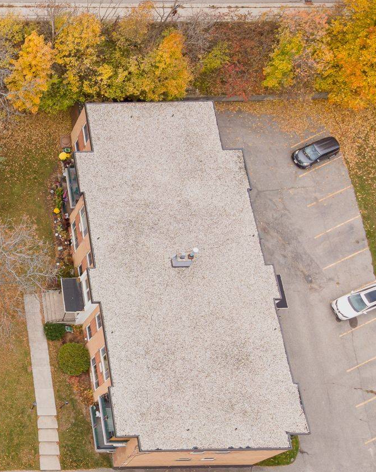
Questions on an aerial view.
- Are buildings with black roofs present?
No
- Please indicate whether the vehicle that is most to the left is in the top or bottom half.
top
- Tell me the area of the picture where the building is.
center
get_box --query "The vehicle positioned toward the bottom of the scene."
[331,283,376,321]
